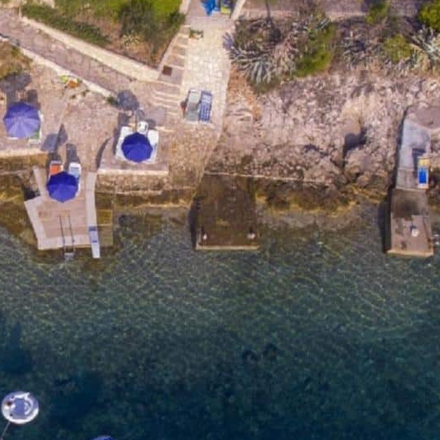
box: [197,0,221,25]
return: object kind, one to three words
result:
umbrella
